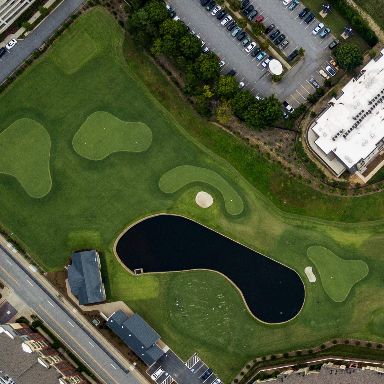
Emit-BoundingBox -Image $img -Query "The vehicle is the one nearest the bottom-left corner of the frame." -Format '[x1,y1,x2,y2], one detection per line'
[150,367,165,382]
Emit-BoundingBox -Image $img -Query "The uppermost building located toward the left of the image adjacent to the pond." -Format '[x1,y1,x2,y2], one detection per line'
[67,249,106,305]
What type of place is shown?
golf course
